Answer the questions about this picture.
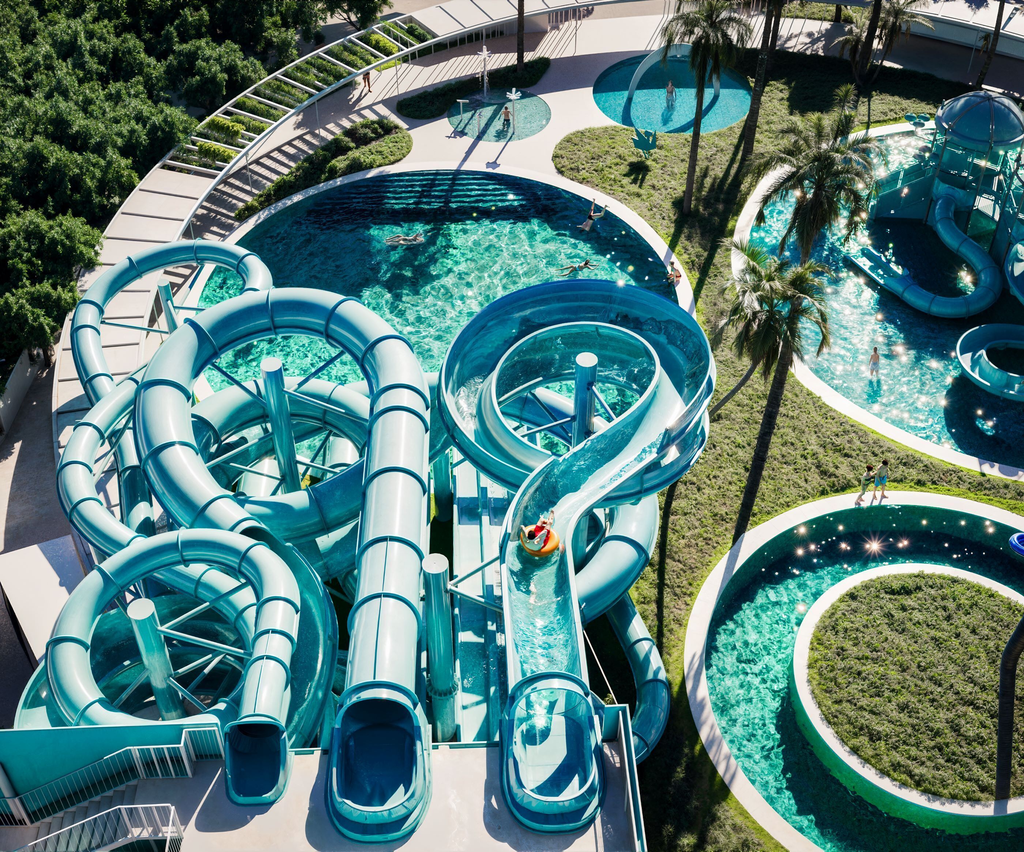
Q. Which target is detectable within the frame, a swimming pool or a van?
swimming pool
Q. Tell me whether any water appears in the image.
Yes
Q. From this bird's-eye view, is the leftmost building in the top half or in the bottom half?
bottom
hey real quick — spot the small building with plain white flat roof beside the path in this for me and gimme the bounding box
[0,535,83,646]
